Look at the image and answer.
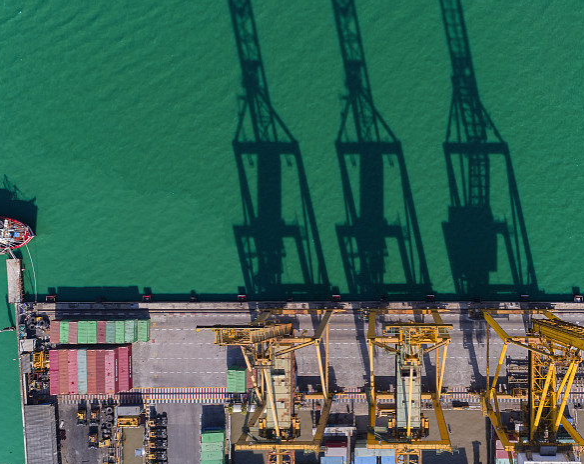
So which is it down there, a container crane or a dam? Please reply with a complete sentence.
There is a container crane in the scene.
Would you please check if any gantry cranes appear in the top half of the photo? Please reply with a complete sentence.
No, I can find no gantry crane in the top half of the photo.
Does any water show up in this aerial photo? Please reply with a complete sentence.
Yes, water shows up in the scene.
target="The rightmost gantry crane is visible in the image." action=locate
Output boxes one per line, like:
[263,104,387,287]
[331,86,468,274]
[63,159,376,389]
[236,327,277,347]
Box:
[461,310,584,464]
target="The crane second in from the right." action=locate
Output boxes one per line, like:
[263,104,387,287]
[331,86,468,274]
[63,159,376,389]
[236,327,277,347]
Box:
[353,310,459,464]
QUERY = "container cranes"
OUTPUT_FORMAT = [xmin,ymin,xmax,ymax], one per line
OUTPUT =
[461,310,584,464]
[353,310,459,464]
[194,310,353,464]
